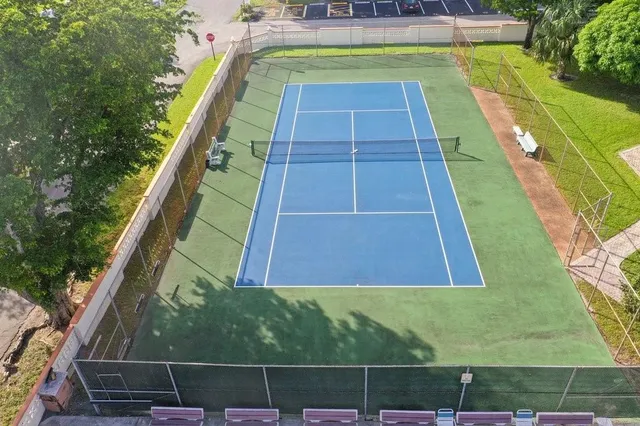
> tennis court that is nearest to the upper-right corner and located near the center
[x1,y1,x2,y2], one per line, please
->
[124,54,615,367]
